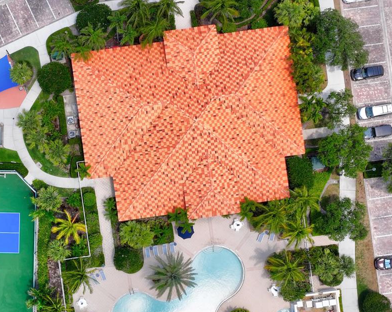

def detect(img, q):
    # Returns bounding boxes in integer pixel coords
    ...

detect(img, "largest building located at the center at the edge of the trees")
[71,24,306,222]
